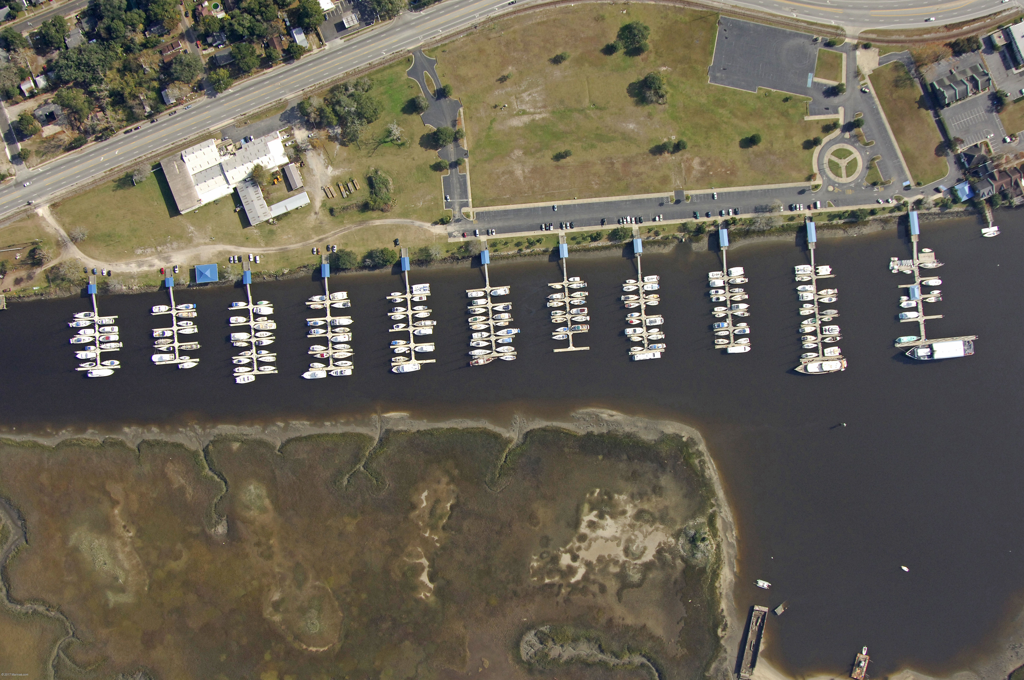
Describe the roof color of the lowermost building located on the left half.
blue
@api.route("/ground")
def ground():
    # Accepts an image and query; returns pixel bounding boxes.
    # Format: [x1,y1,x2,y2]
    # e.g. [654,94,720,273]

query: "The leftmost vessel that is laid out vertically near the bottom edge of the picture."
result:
[738,605,768,679]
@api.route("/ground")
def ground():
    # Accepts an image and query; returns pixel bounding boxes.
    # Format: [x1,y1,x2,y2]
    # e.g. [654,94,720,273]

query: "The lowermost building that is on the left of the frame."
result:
[195,263,219,283]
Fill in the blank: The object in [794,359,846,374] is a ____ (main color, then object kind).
white boat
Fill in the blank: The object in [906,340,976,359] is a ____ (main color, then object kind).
white vessel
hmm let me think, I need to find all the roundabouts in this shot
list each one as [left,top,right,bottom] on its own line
[824,144,862,182]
